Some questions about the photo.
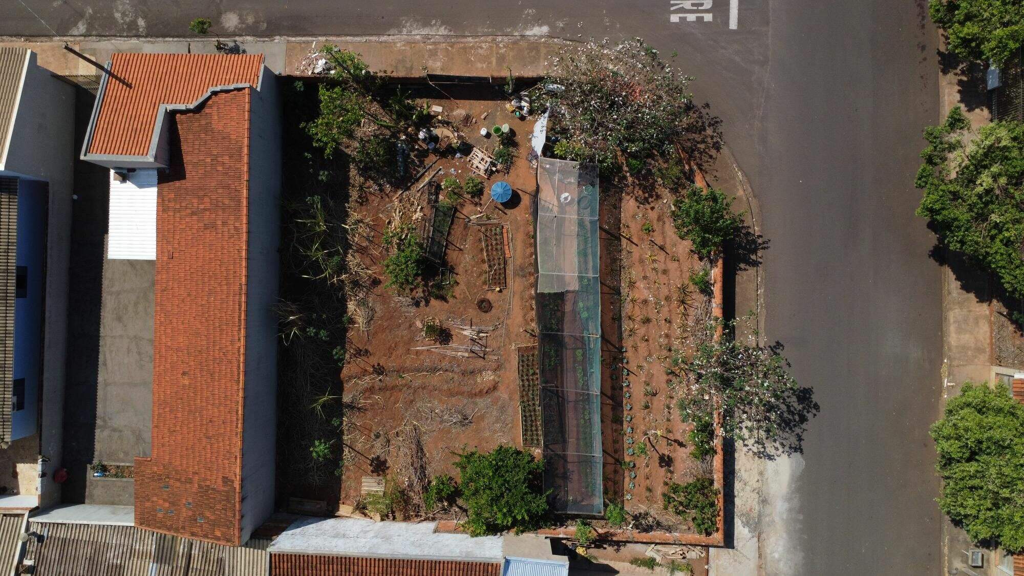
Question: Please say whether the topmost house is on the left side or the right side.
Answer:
left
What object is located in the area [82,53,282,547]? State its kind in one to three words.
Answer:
house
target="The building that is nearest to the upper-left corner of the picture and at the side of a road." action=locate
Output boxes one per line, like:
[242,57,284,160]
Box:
[0,44,74,185]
